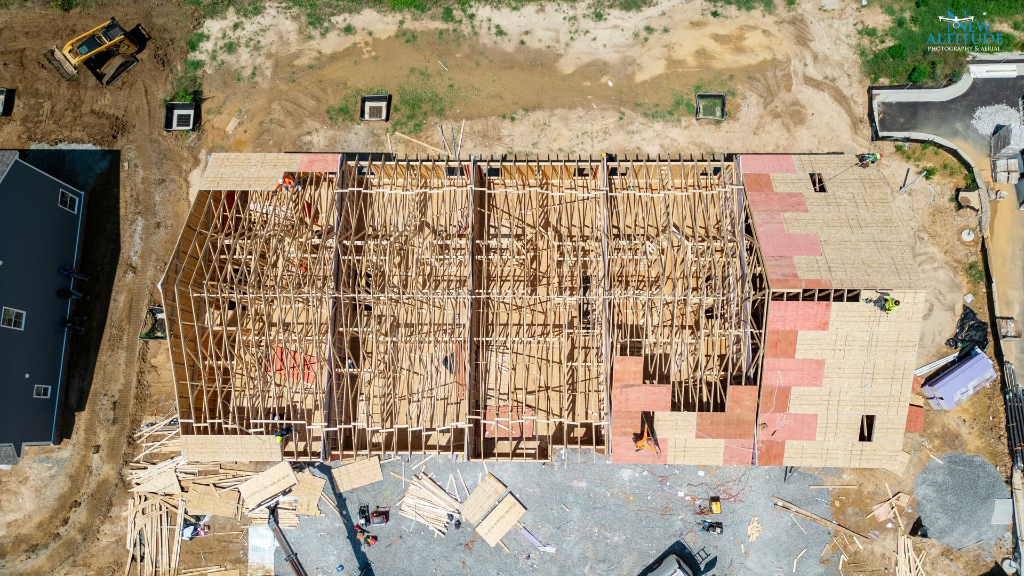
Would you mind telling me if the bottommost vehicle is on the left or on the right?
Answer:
right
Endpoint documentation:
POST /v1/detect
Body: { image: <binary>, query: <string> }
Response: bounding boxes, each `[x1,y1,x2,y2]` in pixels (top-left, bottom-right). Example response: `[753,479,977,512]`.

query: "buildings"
[0,145,88,464]
[158,153,926,468]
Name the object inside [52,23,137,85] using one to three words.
work vehicle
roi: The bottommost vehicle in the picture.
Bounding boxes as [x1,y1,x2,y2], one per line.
[641,552,691,576]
